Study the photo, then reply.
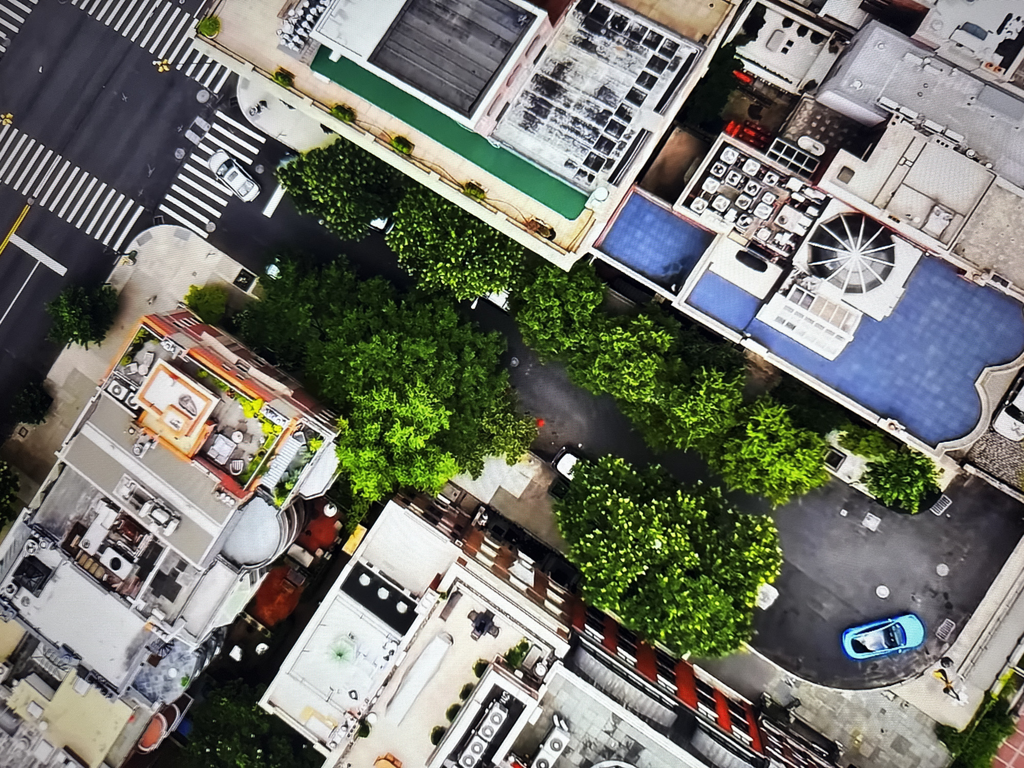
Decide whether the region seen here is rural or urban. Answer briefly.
urban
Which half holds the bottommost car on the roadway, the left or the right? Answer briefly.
right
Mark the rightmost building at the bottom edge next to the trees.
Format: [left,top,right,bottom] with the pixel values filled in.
[506,584,806,768]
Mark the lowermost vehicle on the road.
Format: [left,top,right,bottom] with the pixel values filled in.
[842,615,929,663]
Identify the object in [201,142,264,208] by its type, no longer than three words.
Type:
car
